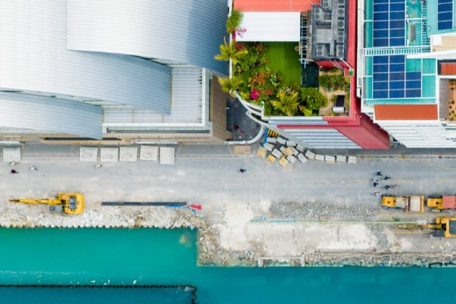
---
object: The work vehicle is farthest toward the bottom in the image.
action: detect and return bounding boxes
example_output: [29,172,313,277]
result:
[398,214,456,237]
